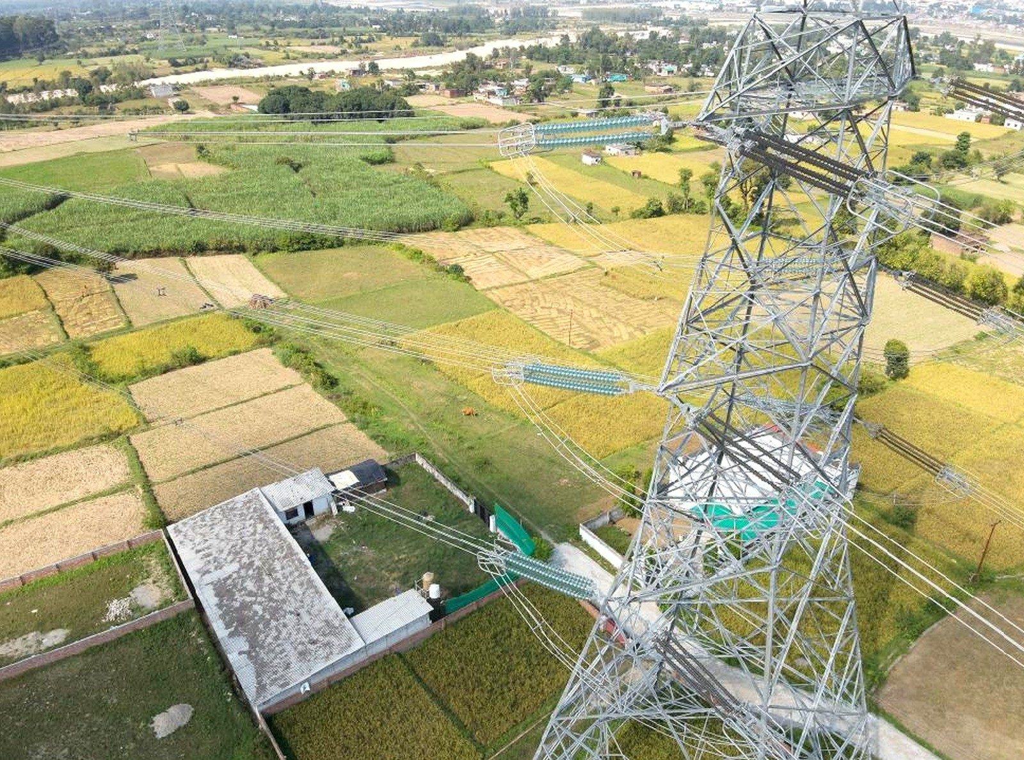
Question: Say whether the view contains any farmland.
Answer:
Yes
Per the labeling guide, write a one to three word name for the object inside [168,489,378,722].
shed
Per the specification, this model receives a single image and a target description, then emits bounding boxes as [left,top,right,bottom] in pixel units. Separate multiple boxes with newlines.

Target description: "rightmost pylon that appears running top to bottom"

[532,0,929,760]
